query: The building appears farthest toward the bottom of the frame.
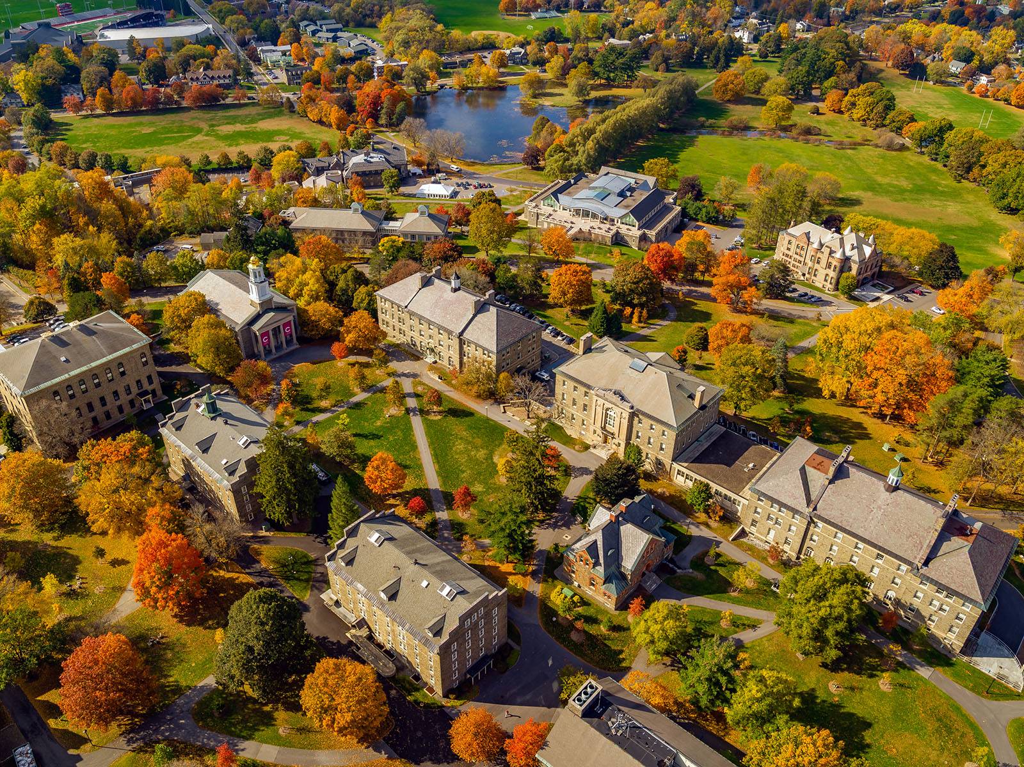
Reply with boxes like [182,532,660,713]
[528,669,745,767]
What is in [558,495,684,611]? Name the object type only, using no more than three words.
house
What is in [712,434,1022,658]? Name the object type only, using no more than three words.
building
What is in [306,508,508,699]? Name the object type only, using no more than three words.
building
